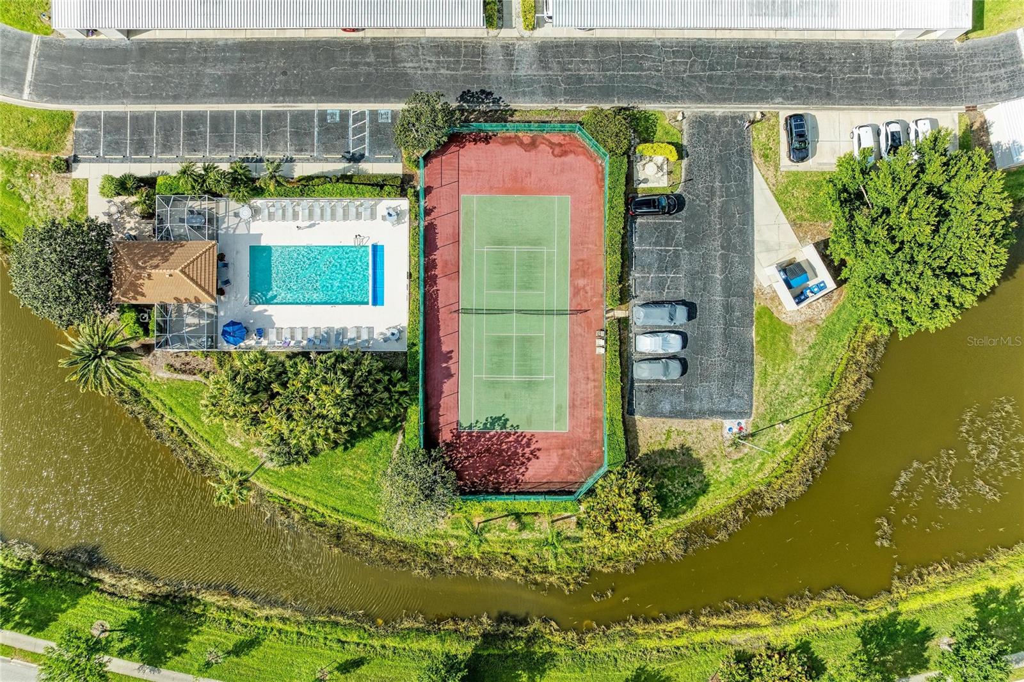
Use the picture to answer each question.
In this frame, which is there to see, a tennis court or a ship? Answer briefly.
tennis court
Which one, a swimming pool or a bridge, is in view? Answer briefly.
swimming pool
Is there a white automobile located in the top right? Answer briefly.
Yes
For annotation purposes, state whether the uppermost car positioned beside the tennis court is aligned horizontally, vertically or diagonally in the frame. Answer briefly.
horizontally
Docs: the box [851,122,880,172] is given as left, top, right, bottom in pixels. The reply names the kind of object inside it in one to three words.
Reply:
car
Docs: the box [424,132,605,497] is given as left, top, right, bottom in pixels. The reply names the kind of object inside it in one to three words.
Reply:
tennis court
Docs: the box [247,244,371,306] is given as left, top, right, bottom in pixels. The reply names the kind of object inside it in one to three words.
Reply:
swimming pool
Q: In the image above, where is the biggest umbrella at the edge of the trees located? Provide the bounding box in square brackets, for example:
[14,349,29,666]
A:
[223,321,248,346]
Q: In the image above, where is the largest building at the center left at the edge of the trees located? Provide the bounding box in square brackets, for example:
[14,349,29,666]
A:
[111,239,224,305]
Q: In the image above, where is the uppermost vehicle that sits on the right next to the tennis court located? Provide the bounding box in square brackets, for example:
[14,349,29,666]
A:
[628,192,678,215]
